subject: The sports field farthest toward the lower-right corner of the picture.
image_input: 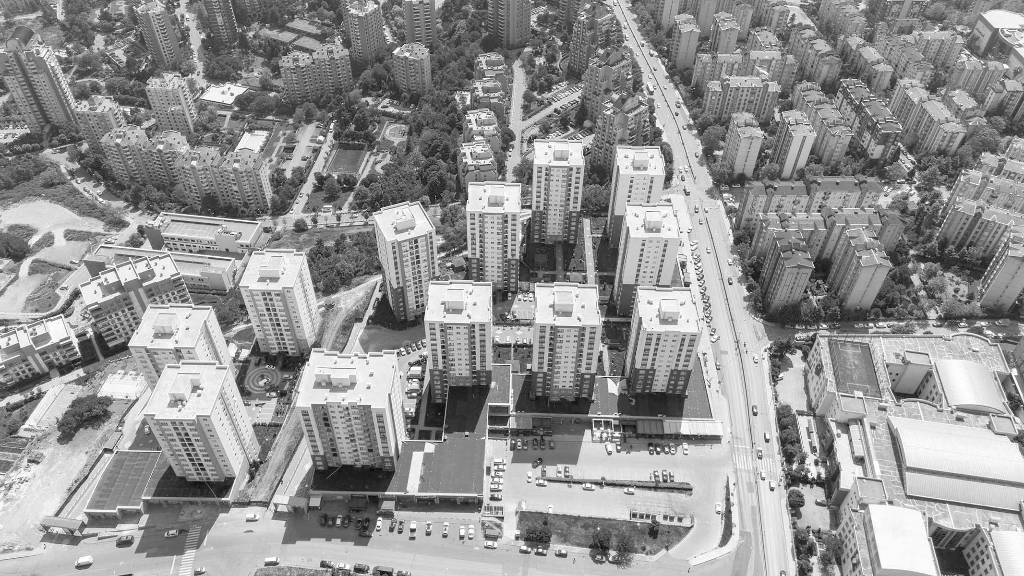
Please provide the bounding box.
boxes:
[828,341,880,398]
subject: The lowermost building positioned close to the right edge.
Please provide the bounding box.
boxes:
[807,332,1024,576]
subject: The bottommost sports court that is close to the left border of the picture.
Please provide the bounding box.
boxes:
[18,384,87,433]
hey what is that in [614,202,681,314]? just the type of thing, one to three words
building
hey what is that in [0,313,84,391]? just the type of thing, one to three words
building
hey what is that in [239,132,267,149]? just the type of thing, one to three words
swimming pool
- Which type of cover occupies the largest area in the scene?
buildings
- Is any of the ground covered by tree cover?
Yes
